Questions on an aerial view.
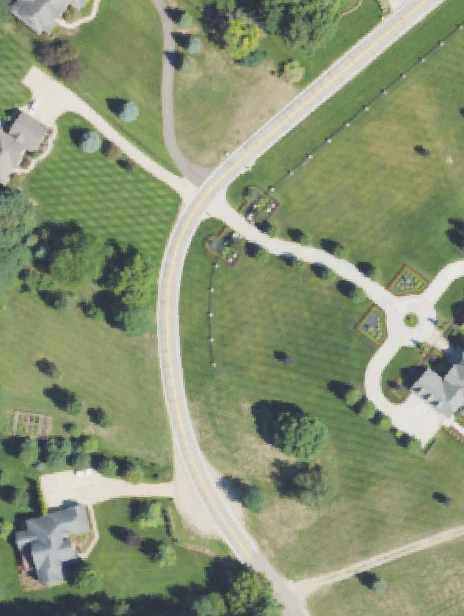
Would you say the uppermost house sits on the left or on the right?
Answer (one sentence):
You can find the uppermost house on the left side of the picture.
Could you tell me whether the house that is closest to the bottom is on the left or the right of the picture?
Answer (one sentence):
The house that is closest to the bottom is on the left side of the image.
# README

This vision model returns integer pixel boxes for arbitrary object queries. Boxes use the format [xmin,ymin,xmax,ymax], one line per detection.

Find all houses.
[0,109,49,193]
[410,345,464,419]
[5,0,87,40]
[14,506,91,585]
